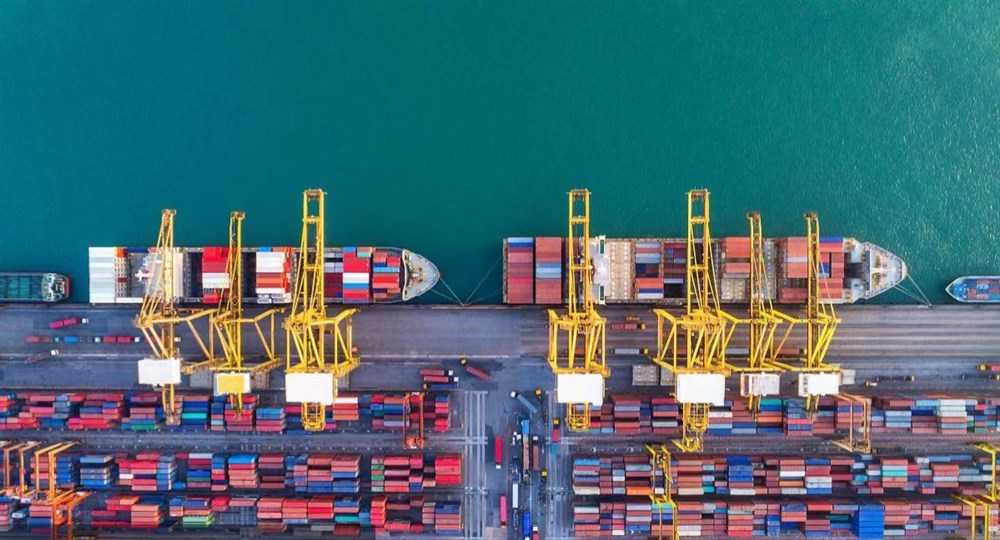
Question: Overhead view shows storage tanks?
No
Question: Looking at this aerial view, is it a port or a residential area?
port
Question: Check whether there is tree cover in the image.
No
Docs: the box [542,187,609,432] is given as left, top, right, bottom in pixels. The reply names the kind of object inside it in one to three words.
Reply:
container crane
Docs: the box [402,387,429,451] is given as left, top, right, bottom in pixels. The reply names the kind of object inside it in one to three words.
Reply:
crane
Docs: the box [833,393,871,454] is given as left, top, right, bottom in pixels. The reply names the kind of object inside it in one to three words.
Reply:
crane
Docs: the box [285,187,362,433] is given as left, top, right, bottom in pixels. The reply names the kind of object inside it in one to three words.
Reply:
container crane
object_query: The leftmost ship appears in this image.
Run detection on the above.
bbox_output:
[0,272,73,304]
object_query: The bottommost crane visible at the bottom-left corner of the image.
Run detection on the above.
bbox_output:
[52,490,95,540]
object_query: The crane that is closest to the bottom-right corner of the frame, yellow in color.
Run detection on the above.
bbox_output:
[949,493,991,540]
